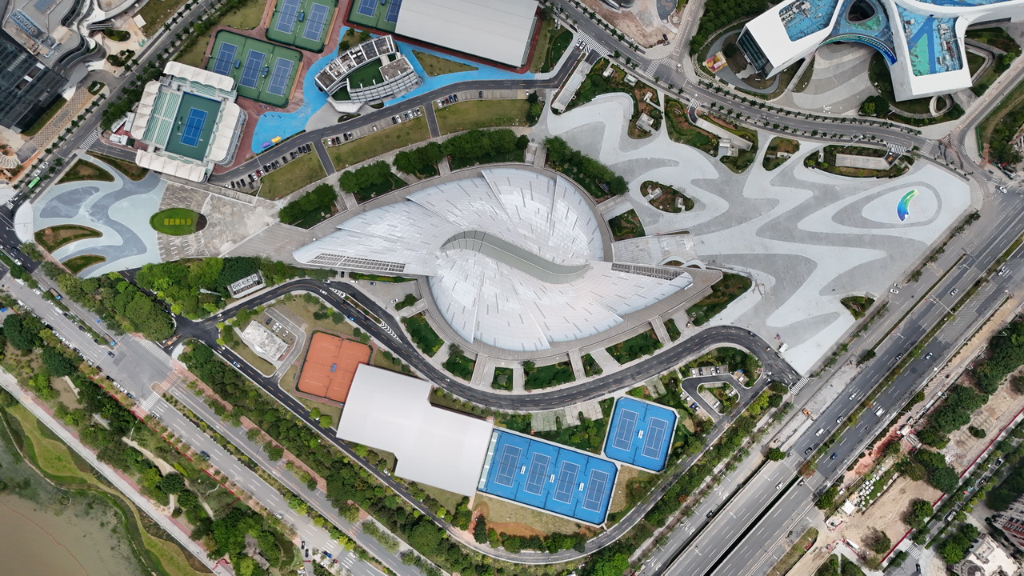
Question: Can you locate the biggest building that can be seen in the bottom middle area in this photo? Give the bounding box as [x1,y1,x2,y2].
[336,361,494,497]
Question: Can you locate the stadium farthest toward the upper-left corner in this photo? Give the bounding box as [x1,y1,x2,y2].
[128,63,249,183]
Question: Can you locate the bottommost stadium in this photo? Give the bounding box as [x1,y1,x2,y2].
[217,161,724,365]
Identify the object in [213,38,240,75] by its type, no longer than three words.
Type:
tennis court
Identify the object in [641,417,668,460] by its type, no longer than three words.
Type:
tennis court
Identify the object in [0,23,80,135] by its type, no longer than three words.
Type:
building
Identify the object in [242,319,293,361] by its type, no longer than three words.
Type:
building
